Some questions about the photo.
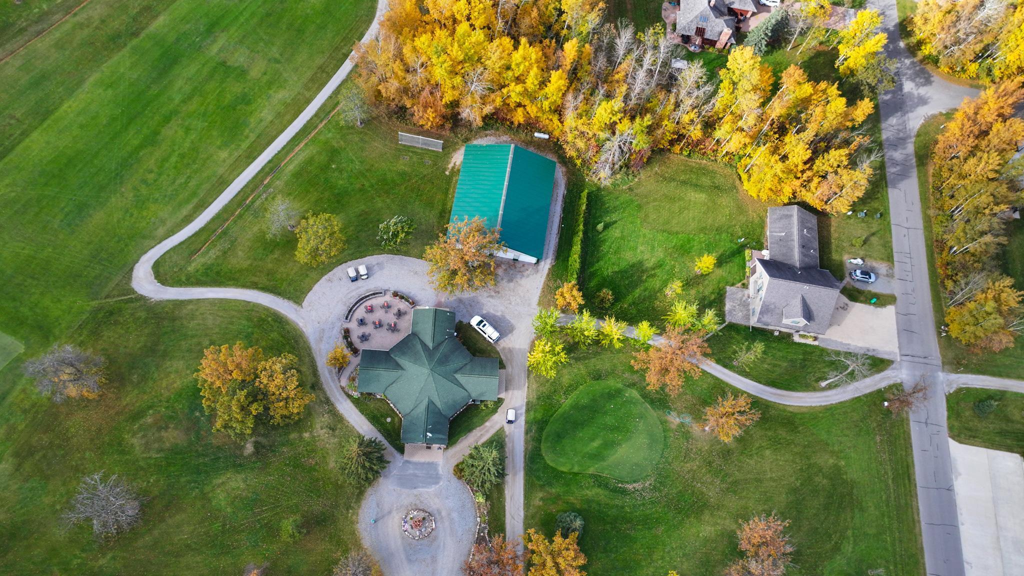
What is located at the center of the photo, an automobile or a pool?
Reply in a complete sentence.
The feature located at the center of the photo is an automobile.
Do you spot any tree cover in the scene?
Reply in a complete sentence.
Yes, tree cover shows up in the scene.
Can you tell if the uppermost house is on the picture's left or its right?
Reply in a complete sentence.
It is on the right.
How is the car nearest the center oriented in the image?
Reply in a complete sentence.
Seen from above, the car nearest the center lies at an angle.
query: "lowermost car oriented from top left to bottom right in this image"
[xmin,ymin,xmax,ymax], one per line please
[470,316,501,346]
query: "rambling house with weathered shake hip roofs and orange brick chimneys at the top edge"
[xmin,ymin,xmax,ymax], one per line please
[679,0,754,56]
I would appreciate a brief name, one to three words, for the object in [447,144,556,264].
shed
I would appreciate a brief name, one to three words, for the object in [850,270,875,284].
car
